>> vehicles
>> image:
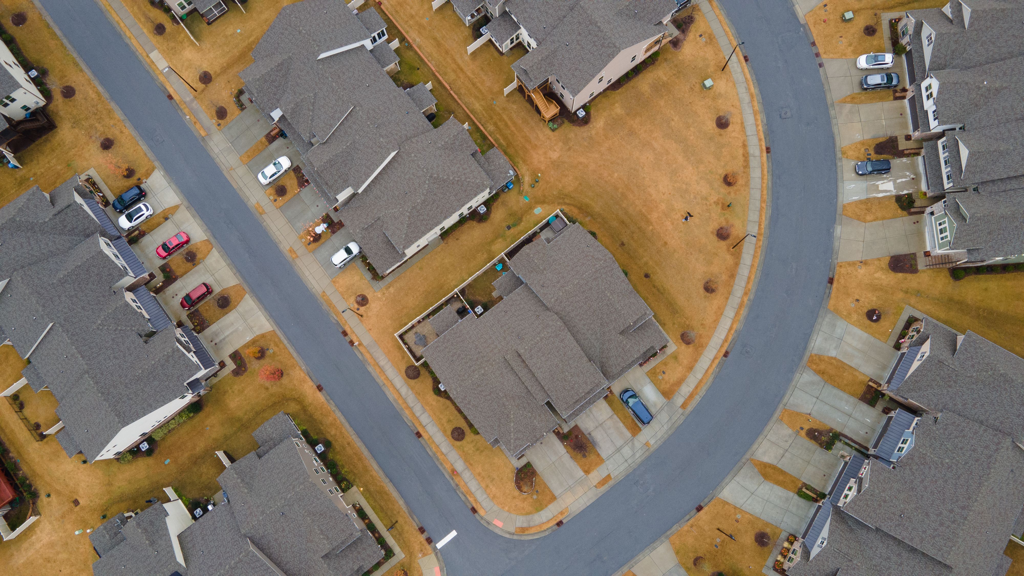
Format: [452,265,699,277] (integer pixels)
[859,72,900,92]
[112,185,149,213]
[854,159,892,176]
[179,281,215,310]
[329,242,362,269]
[673,0,697,17]
[117,202,156,231]
[258,157,293,185]
[155,231,193,261]
[619,387,656,429]
[854,52,895,72]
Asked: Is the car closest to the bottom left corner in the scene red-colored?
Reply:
Yes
